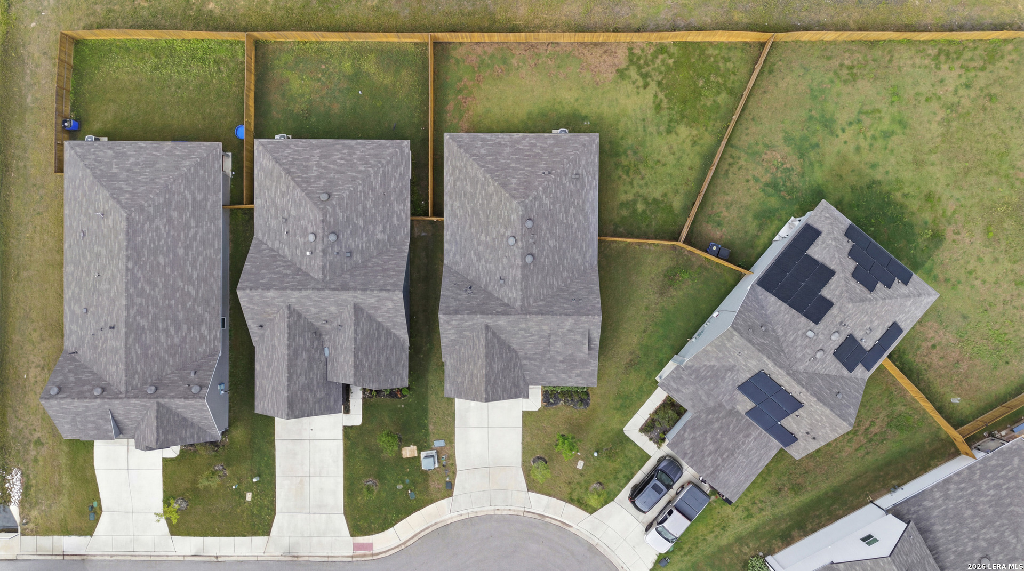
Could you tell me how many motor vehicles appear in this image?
2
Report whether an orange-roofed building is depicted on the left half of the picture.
No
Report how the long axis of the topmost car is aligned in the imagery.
on a diagonal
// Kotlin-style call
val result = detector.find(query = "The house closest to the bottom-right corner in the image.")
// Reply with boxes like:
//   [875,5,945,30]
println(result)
[767,435,1024,571]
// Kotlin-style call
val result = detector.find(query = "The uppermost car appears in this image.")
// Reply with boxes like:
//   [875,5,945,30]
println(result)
[626,454,683,512]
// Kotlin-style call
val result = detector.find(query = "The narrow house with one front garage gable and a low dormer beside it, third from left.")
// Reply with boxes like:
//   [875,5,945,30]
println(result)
[438,132,602,402]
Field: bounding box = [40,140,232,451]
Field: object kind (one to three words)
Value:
house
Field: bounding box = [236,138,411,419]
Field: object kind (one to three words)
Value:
house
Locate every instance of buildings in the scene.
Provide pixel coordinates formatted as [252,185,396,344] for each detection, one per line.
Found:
[767,435,1024,571]
[658,199,940,503]
[40,140,232,451]
[438,132,602,402]
[236,138,411,419]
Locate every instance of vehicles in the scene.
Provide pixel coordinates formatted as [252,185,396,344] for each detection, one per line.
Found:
[626,454,683,512]
[643,482,708,553]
